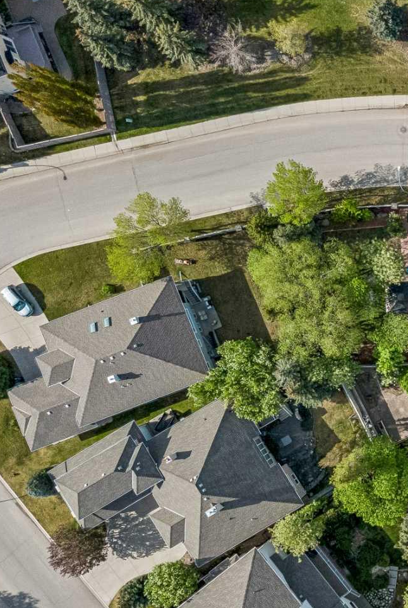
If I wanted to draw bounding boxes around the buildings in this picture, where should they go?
[178,535,364,608]
[0,0,31,108]
[7,276,209,452]
[46,401,311,569]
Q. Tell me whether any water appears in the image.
No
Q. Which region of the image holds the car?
left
